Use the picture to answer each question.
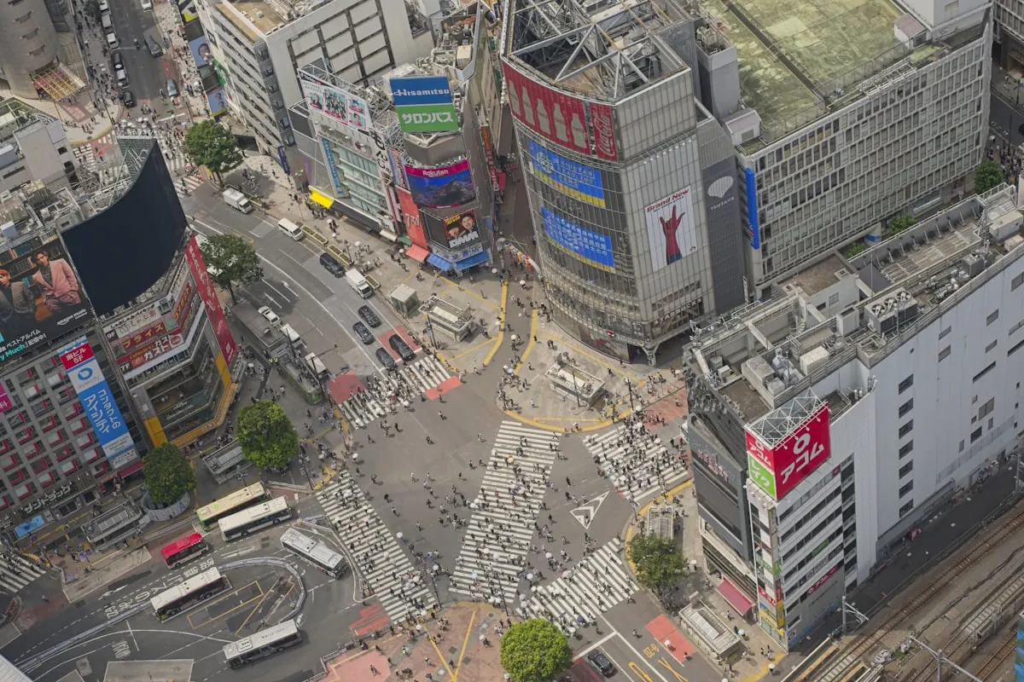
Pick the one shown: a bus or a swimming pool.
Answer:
bus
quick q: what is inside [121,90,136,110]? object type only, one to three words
car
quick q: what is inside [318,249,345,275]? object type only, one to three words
vehicle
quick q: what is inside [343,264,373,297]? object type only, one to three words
truck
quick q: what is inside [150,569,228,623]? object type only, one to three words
bus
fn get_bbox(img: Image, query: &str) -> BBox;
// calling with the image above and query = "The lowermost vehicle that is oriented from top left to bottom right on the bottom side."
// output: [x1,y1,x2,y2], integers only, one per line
[586,649,615,679]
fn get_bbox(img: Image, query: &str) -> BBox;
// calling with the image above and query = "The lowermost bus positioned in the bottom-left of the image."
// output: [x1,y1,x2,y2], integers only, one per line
[226,623,303,671]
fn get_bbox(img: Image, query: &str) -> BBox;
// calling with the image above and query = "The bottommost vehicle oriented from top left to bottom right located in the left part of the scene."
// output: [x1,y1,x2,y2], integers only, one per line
[284,529,349,583]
